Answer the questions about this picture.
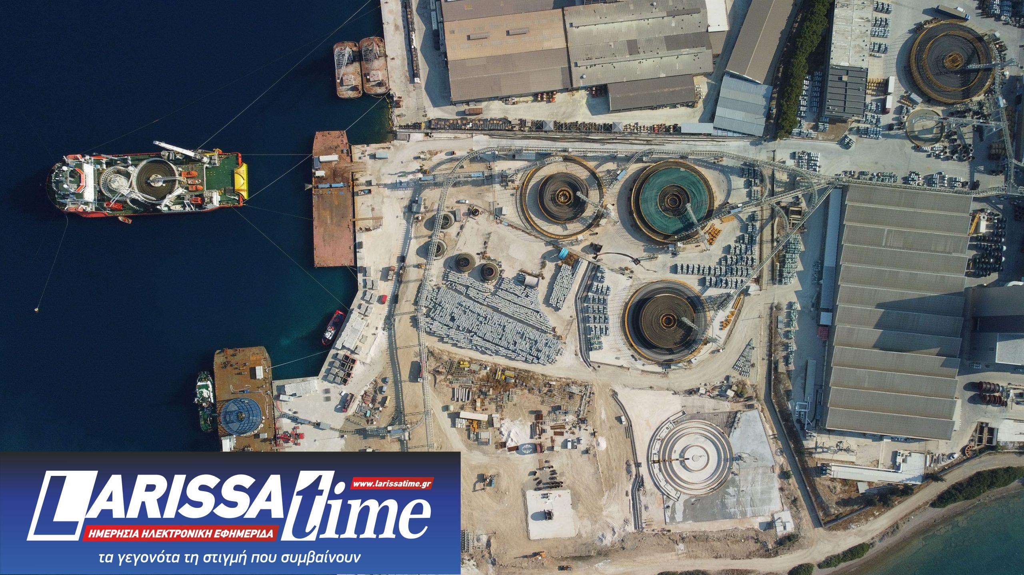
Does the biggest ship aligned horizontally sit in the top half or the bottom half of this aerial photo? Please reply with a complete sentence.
The biggest ship aligned horizontally sits in the top half of the picture.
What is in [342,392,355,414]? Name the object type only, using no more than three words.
vehicle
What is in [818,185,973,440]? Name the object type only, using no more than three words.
building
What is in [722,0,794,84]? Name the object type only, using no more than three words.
building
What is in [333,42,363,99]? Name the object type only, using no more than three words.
ship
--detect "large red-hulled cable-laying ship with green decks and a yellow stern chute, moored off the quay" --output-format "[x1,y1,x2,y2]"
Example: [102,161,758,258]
[45,139,252,216]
